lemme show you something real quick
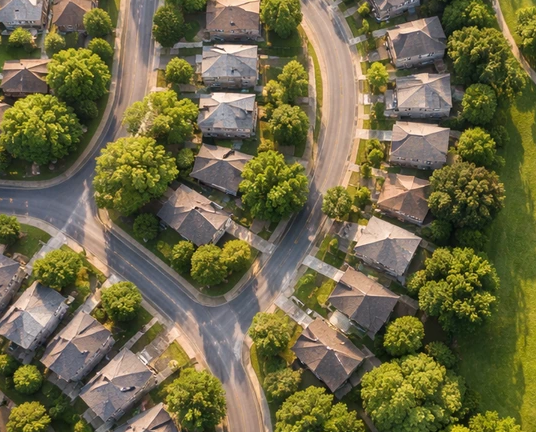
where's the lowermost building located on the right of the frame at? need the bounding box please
[290,318,364,389]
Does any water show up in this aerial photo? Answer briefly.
No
